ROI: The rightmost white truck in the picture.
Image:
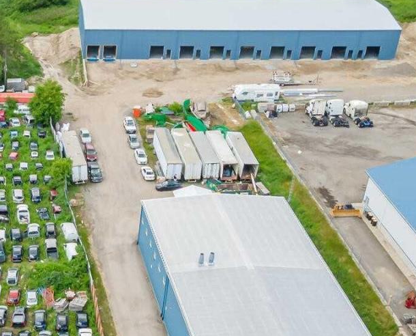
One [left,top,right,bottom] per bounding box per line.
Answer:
[349,97,379,127]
